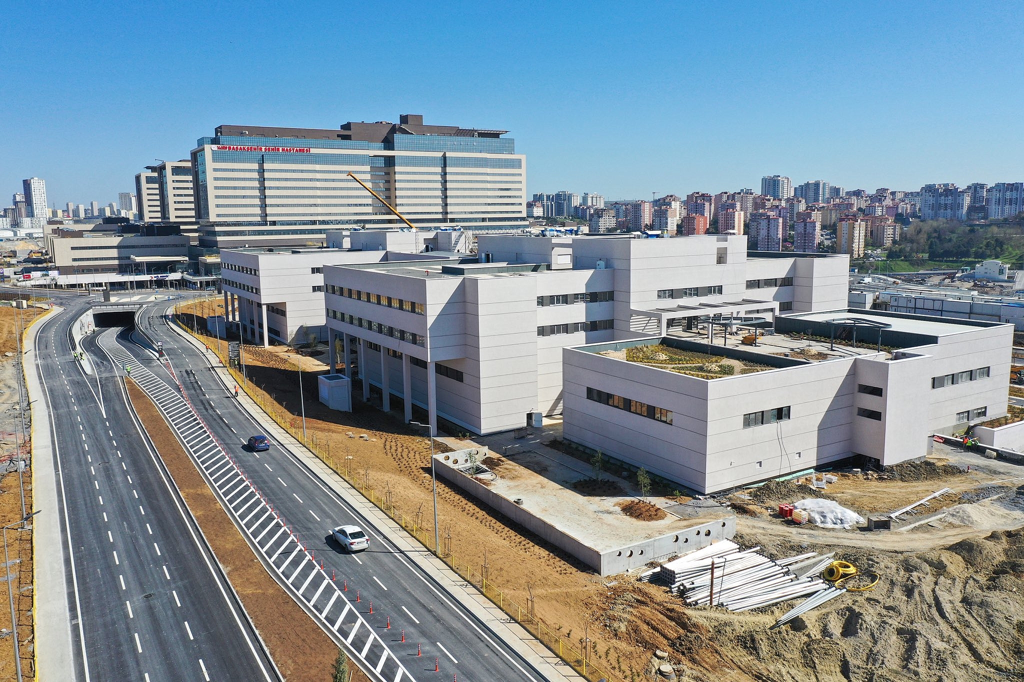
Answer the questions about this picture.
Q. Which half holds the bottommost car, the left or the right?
left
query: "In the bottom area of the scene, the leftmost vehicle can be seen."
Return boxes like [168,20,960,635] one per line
[249,430,272,447]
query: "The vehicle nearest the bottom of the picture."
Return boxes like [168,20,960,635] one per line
[333,518,371,548]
